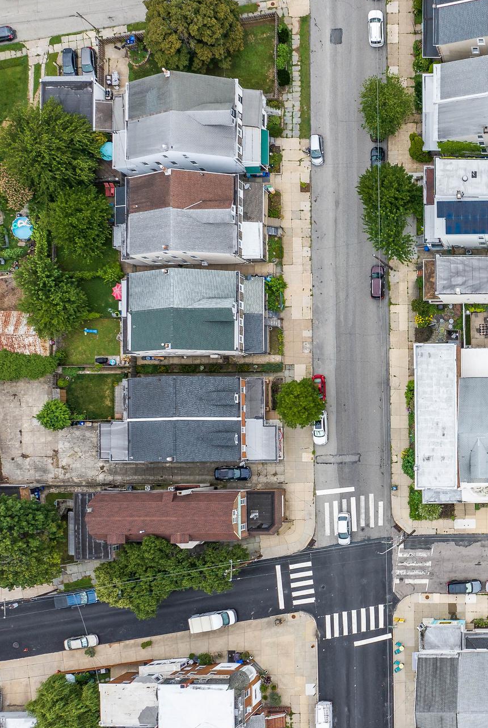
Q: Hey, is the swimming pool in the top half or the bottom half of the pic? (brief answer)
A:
top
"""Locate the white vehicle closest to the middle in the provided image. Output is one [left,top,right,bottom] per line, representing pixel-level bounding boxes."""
[311,410,329,445]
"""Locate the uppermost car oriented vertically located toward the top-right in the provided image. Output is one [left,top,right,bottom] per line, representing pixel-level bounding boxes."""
[367,9,385,47]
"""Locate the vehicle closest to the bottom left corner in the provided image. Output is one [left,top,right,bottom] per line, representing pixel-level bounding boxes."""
[64,633,100,651]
